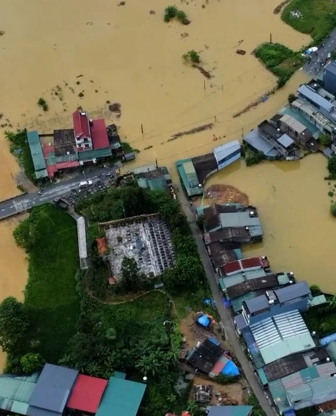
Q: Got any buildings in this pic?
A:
Yes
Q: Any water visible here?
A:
Yes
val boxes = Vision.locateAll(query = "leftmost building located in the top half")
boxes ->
[27,130,50,186]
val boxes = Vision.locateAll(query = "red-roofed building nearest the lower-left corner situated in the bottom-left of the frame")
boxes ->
[68,374,108,416]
